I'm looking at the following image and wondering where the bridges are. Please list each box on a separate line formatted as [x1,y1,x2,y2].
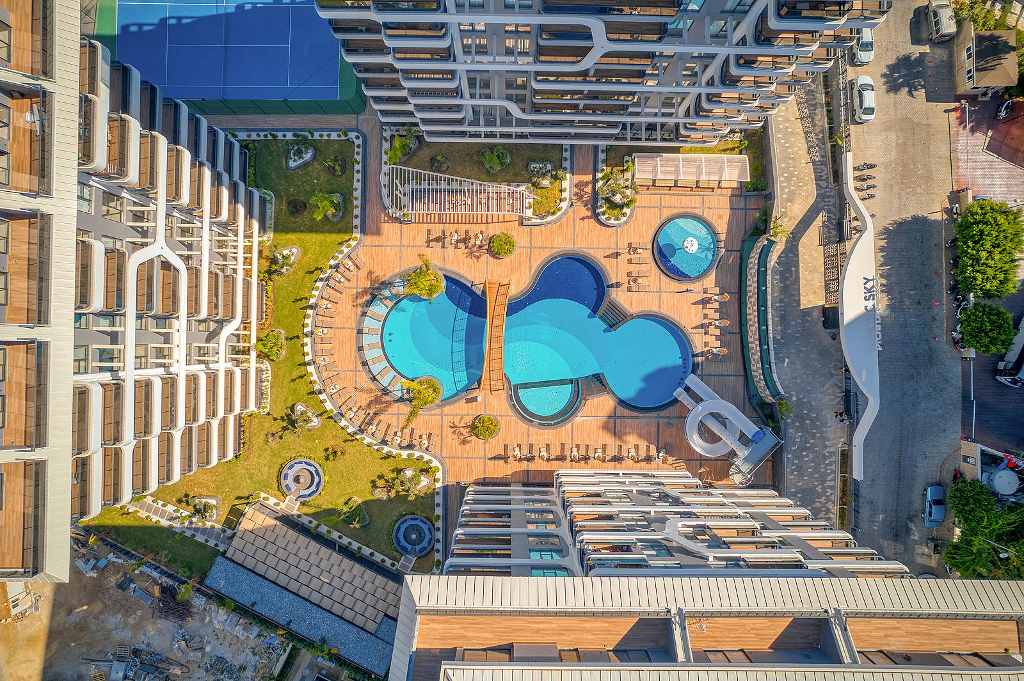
[482,281,509,393]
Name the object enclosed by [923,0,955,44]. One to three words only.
vehicle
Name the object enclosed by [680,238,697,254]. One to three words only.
fountain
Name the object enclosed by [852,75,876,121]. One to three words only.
car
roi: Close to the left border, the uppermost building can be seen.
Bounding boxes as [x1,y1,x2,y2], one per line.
[0,0,256,584]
